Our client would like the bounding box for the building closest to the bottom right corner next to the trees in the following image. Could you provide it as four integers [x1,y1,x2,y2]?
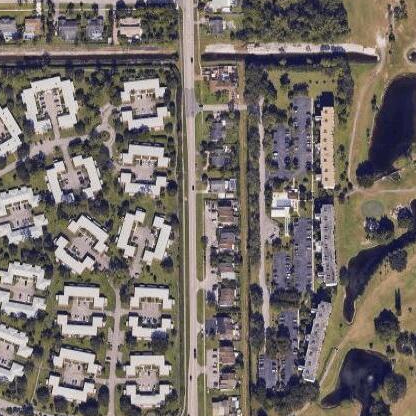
[298,301,332,381]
